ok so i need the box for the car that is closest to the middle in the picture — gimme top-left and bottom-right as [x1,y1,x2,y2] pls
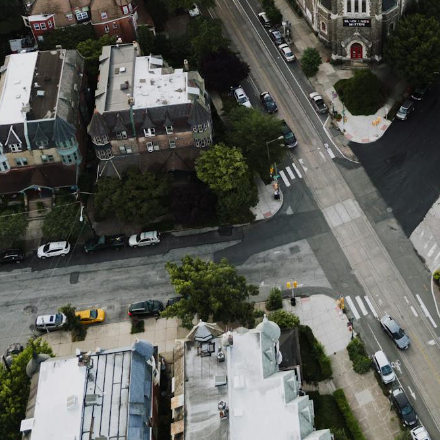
[126,227,162,248]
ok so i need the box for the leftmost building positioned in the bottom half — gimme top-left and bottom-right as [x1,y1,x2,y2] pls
[23,342,173,440]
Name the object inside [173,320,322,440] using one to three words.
house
